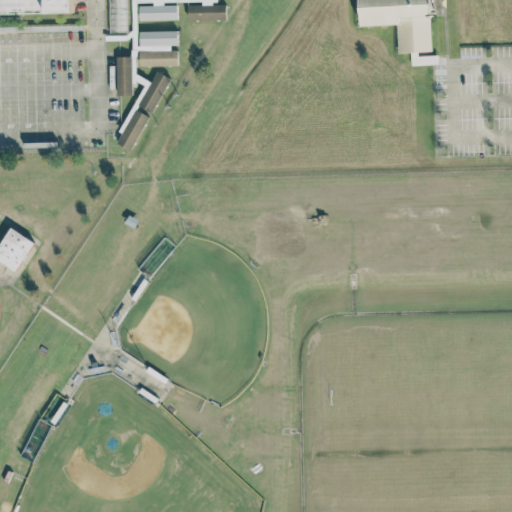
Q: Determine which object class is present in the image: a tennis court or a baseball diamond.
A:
baseball diamond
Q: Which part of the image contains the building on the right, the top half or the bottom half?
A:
top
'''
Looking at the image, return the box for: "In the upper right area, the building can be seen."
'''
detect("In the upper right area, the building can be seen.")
[358,0,440,66]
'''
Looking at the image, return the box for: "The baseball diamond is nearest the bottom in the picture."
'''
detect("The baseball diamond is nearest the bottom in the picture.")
[12,374,263,512]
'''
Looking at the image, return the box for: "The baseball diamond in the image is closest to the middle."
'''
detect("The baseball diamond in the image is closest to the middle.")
[118,235,268,407]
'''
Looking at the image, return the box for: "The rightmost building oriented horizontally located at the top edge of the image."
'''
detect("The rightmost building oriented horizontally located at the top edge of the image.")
[188,6,228,22]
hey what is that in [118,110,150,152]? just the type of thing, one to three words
building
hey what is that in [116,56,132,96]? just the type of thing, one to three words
building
